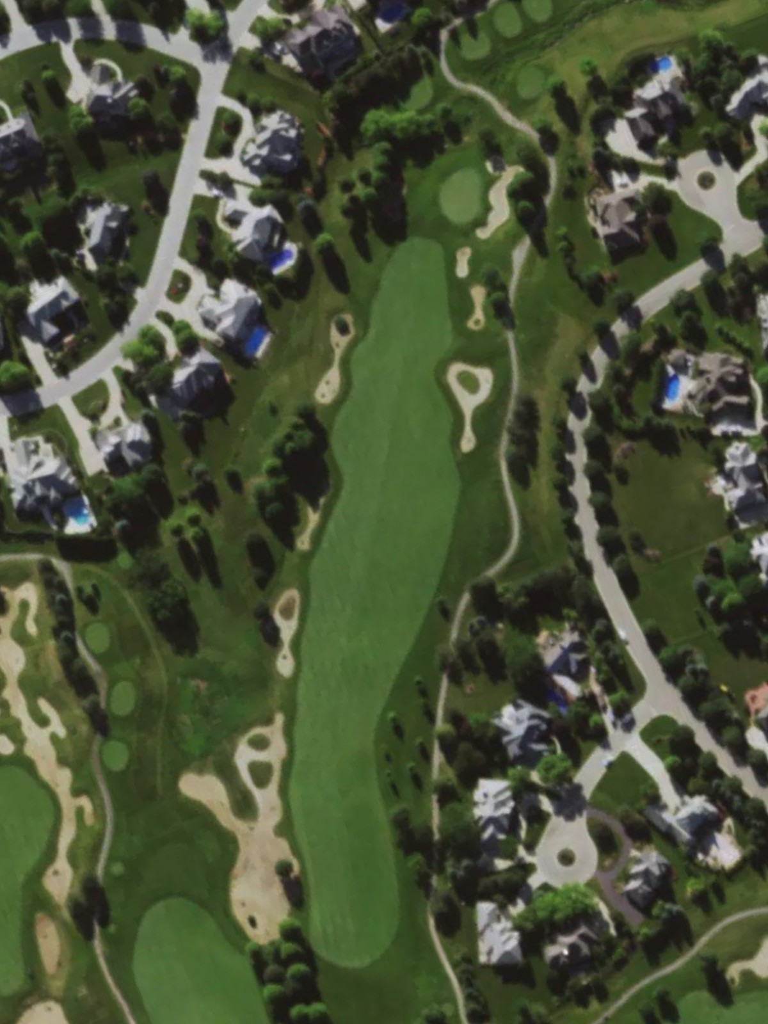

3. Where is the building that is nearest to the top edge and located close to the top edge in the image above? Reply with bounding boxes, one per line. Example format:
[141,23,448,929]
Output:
[284,2,367,83]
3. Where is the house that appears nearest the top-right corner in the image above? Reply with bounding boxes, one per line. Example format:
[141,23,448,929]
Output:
[719,61,768,129]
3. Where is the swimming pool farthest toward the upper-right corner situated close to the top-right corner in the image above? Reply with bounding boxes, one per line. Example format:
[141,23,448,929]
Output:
[651,56,672,72]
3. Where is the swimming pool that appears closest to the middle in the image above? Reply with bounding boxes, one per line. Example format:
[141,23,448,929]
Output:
[243,326,269,356]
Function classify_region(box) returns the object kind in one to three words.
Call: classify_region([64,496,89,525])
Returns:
swimming pool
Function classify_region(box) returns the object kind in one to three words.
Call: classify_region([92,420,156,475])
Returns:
house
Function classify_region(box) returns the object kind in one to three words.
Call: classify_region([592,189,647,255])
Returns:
house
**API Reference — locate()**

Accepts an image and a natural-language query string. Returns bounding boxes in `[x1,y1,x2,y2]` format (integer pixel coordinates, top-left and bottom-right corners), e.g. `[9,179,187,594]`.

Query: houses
[748,530,768,589]
[756,294,768,347]
[476,775,519,857]
[592,189,647,255]
[92,420,156,475]
[152,350,228,423]
[685,345,756,426]
[84,75,144,132]
[538,920,609,978]
[495,693,556,764]
[9,438,85,519]
[239,110,305,178]
[621,78,695,151]
[284,2,367,83]
[719,61,768,129]
[82,198,133,264]
[0,116,44,180]
[717,436,768,532]
[644,789,729,851]
[473,899,524,972]
[619,845,675,910]
[224,196,290,264]
[534,625,594,689]
[17,271,89,348]
[196,274,269,344]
